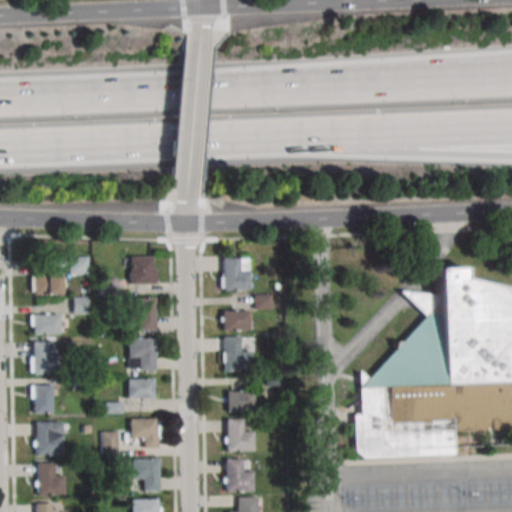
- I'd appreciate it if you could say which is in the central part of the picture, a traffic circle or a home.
home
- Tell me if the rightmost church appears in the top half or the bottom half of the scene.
bottom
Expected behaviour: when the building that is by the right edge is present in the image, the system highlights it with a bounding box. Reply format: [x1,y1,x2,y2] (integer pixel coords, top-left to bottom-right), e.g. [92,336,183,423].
[355,266,512,459]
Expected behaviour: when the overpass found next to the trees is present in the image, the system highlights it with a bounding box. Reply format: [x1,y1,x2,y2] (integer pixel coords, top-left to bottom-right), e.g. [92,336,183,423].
[174,33,230,203]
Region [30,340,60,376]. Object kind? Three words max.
house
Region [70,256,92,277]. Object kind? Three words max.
building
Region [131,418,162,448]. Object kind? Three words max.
house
